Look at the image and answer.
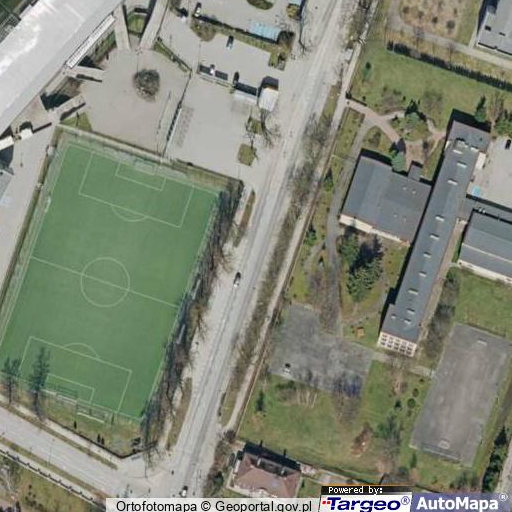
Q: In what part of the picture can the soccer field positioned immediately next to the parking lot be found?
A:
left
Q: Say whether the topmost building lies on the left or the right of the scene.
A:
right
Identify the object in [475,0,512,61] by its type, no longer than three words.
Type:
building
